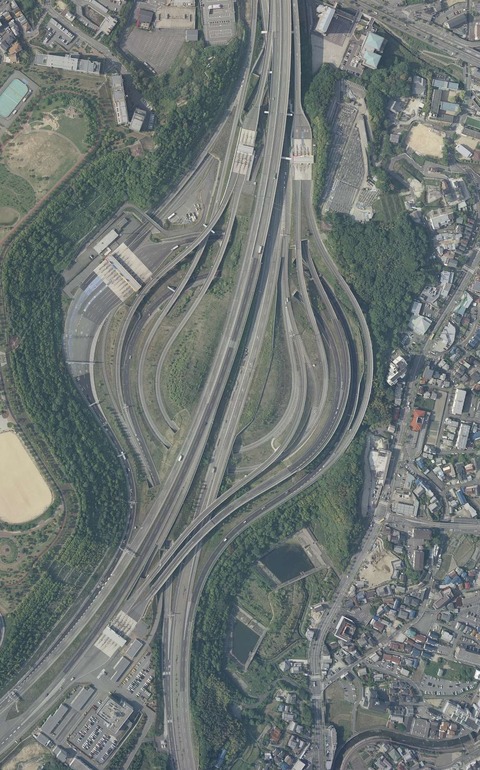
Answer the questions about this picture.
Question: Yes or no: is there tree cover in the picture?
Yes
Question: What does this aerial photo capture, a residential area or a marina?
residential area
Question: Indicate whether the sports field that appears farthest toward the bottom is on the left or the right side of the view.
left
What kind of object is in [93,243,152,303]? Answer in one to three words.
toll station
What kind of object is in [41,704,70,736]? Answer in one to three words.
shed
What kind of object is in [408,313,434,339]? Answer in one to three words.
building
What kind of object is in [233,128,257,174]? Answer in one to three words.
toll station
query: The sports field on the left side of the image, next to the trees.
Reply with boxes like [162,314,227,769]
[0,432,52,523]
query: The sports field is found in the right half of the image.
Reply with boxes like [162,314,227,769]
[407,124,445,158]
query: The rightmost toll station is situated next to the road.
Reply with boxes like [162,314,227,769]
[291,138,314,180]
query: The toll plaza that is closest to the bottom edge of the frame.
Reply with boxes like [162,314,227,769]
[95,611,137,657]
